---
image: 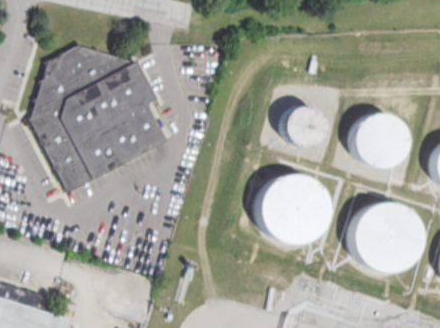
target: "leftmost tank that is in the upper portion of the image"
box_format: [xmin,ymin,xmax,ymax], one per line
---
[278,104,330,149]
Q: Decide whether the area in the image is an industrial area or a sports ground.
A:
industrial area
